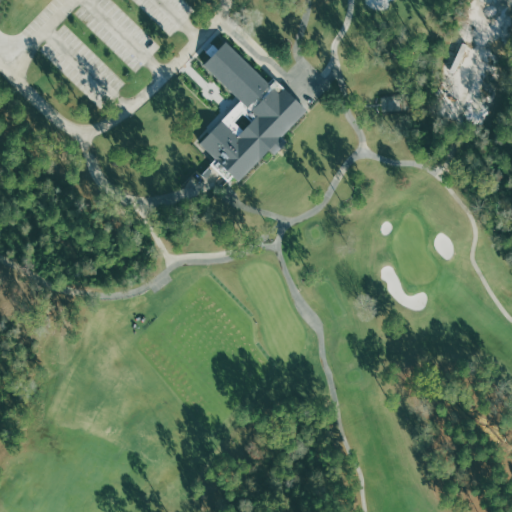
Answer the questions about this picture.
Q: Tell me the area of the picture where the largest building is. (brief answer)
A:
top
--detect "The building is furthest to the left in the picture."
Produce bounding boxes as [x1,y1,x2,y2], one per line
[202,43,307,180]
